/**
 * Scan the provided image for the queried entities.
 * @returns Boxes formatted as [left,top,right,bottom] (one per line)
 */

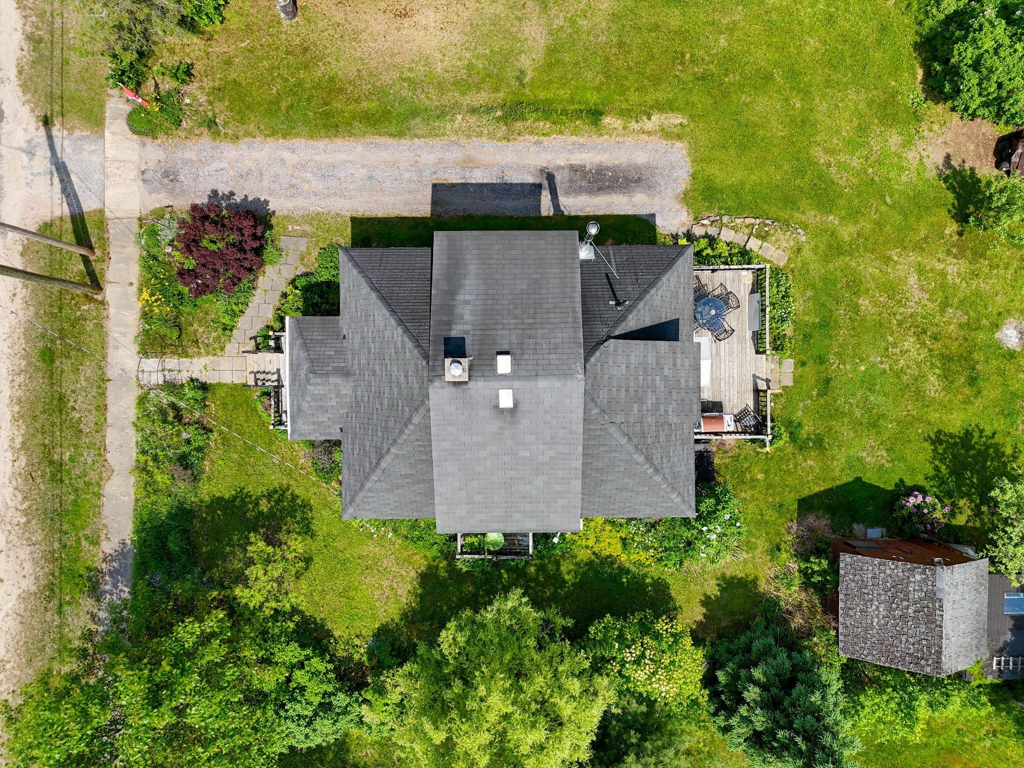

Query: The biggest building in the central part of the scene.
[285,221,702,544]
